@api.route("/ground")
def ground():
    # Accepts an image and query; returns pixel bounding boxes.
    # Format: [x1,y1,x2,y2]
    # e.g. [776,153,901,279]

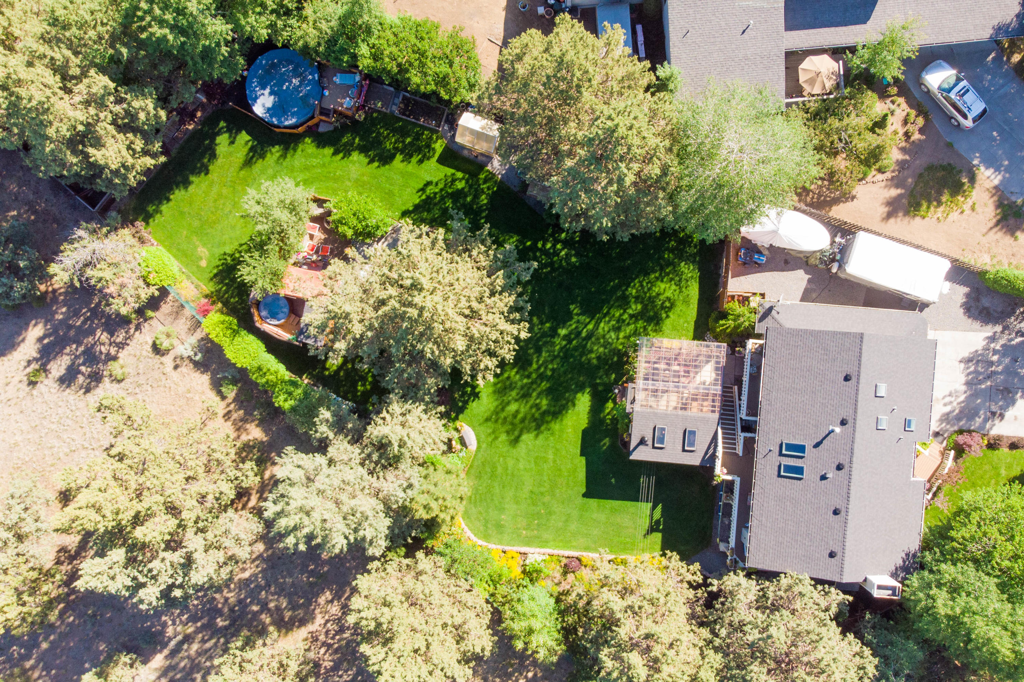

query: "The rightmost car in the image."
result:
[925,60,993,131]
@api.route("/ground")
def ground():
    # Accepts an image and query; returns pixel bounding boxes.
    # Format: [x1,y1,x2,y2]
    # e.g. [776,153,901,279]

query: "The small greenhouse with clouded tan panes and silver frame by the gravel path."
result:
[455,112,499,160]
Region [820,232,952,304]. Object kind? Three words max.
trailer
